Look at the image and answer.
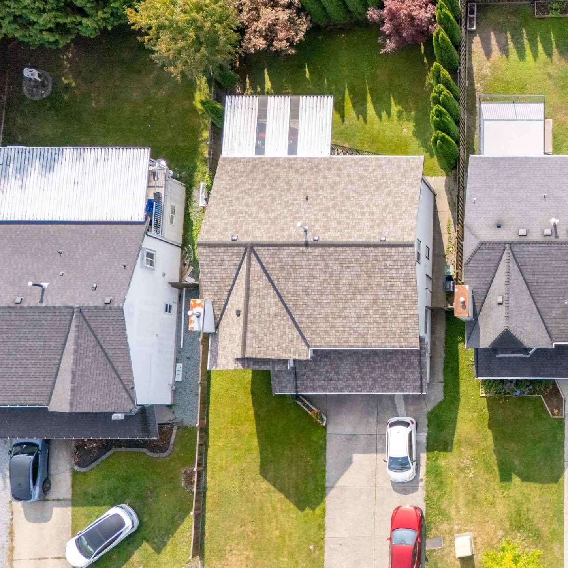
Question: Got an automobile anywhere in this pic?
Yes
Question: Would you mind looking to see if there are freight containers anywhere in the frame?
No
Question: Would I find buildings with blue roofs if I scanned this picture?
No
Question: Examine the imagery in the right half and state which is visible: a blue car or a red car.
red car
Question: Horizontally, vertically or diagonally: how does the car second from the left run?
diagonally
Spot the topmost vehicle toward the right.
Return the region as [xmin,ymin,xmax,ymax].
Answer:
[383,415,421,482]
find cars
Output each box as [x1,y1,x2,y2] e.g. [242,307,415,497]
[388,503,427,568]
[383,415,421,482]
[68,503,145,567]
[6,442,52,504]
